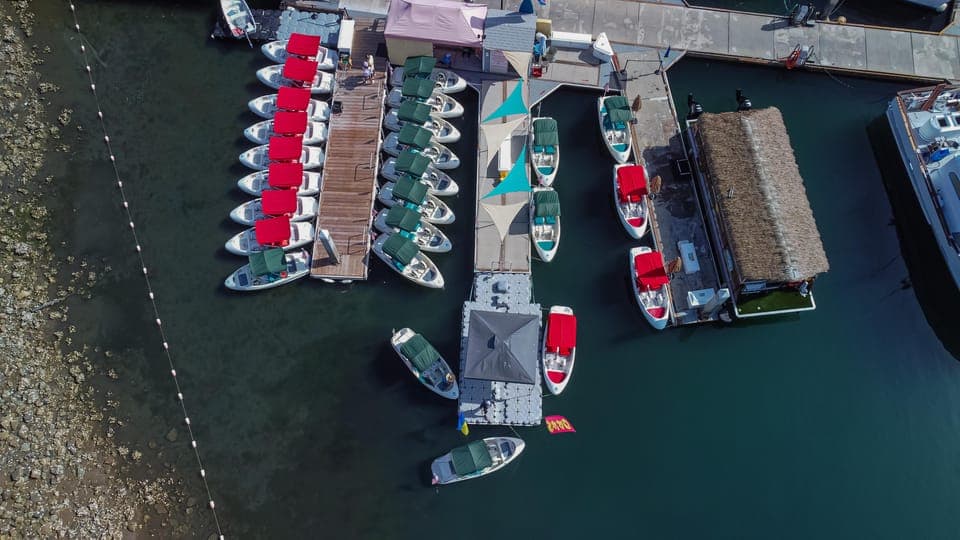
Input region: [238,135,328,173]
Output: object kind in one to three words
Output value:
boat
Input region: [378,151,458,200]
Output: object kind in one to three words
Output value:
boat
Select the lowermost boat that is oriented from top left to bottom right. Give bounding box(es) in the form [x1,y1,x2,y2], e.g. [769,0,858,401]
[388,327,459,399]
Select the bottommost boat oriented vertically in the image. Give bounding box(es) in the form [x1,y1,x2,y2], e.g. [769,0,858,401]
[539,304,577,395]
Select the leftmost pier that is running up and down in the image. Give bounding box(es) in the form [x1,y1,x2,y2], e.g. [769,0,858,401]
[316,8,383,290]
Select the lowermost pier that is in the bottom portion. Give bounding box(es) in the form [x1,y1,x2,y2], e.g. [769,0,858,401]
[454,267,540,428]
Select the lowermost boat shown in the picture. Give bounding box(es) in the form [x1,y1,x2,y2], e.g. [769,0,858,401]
[423,436,525,488]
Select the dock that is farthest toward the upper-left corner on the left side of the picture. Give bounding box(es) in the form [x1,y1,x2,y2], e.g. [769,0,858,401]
[207,8,281,44]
